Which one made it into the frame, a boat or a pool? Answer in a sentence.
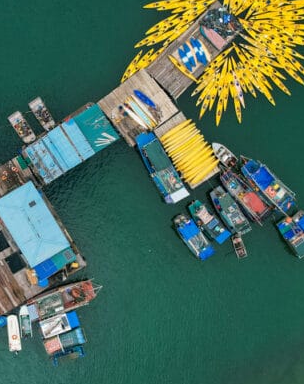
It is a boat that can be seen here.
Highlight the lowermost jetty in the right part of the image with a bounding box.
[153,113,220,189]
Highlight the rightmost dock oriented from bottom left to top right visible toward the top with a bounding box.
[145,0,246,98]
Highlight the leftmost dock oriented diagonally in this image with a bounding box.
[22,104,122,189]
